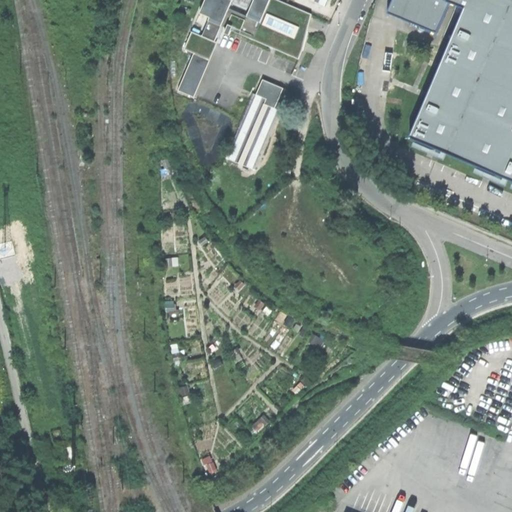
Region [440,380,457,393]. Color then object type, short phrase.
white vehicle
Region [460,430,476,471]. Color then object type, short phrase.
white vehicle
